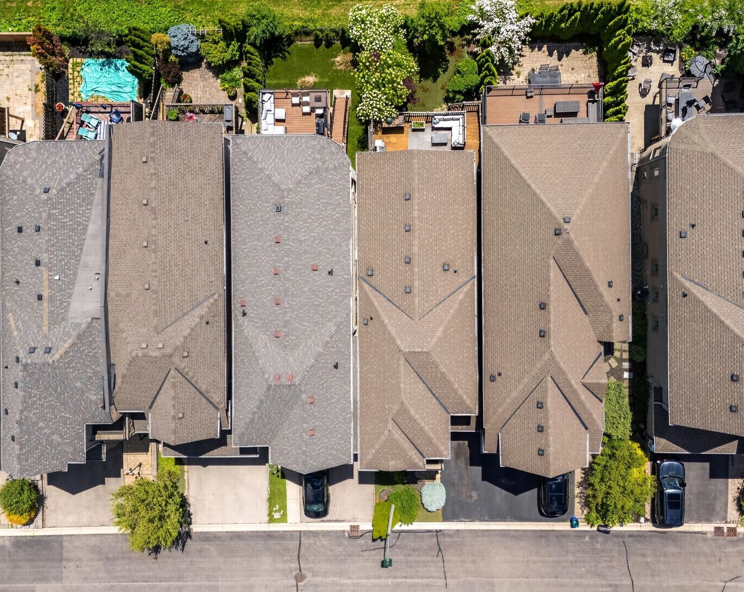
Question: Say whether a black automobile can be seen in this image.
Yes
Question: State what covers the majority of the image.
buildings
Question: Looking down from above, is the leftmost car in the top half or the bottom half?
bottom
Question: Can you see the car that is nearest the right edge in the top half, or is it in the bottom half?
bottom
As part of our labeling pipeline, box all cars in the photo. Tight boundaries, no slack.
[301,469,332,518]
[539,473,568,515]
[653,454,688,525]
